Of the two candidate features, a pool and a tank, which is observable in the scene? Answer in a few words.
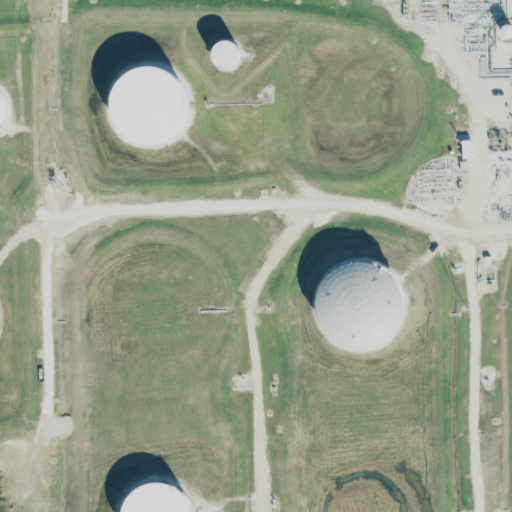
tank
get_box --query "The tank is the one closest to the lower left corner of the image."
[119,477,193,512]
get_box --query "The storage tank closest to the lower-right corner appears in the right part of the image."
[316,256,406,350]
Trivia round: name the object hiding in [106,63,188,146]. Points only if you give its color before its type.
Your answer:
white storage tank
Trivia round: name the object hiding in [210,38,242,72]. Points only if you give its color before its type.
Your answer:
white storage tank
